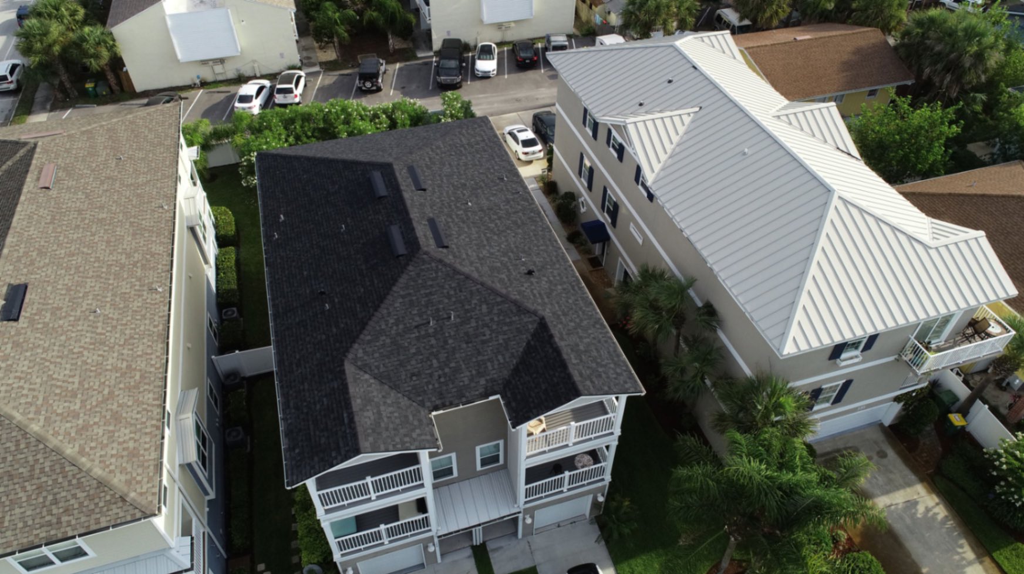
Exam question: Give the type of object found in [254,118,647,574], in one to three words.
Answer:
house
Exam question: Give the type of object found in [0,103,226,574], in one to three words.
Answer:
house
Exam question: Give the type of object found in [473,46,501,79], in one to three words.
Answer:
car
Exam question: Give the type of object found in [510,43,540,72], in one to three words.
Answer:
car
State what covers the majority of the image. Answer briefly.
buildings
